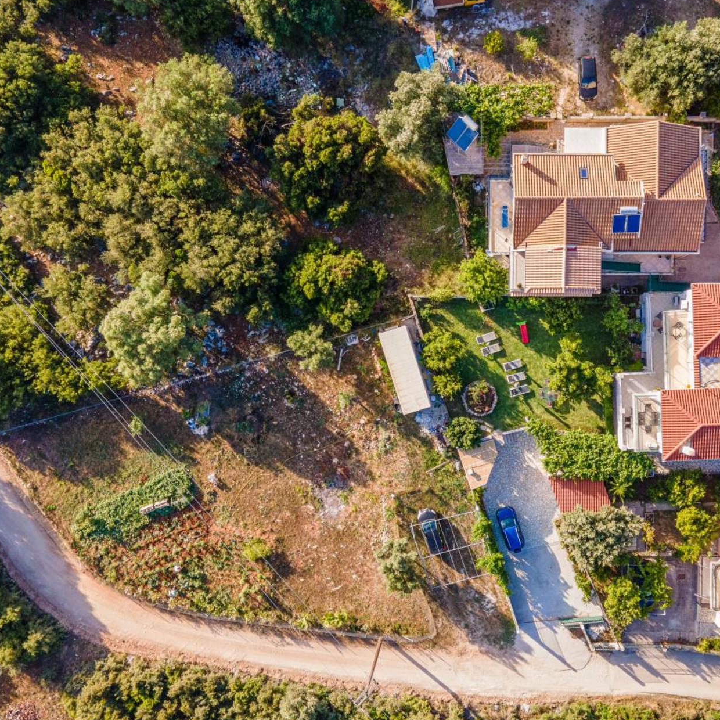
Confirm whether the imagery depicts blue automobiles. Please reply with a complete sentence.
Yes, there is a blue automobile in the image.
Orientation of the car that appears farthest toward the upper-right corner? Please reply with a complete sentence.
I'd say the car that appears farthest toward the upper-right corner is aligned up and down in the picture.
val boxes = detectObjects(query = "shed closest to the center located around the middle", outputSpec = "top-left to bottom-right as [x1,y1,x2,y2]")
[379,324,431,415]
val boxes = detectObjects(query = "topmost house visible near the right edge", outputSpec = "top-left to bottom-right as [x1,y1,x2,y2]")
[489,120,706,298]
